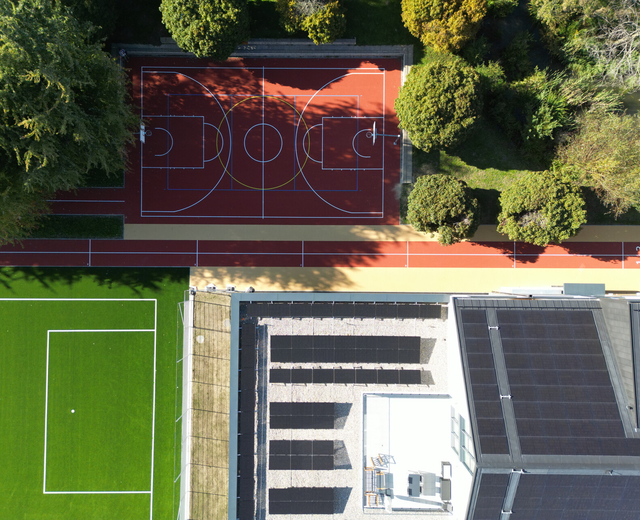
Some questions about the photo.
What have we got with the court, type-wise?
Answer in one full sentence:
Specifically, the court is a basketball court.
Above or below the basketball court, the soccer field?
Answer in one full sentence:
From this view, the soccer field can be seen below the basketball court.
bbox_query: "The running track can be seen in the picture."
[0,239,640,268]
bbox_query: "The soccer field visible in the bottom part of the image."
[0,267,190,520]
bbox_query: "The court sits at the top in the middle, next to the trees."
[124,58,401,224]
